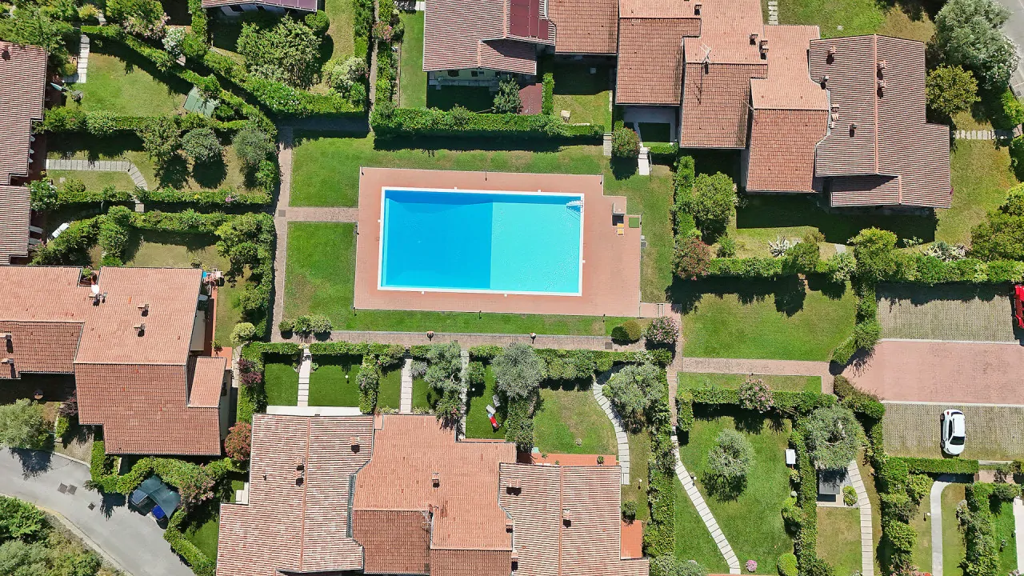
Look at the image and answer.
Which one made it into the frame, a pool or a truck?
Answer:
pool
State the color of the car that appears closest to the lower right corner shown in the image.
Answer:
white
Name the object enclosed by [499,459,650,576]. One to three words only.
house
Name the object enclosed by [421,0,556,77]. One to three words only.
house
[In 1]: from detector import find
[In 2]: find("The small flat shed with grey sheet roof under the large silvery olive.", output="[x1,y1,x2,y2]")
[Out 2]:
[813,464,840,495]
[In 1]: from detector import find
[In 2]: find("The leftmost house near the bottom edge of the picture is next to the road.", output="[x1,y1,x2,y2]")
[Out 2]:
[214,411,374,576]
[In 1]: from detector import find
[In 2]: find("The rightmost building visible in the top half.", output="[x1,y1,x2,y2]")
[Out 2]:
[810,33,952,208]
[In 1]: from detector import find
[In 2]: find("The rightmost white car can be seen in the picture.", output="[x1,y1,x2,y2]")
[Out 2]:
[939,409,968,455]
